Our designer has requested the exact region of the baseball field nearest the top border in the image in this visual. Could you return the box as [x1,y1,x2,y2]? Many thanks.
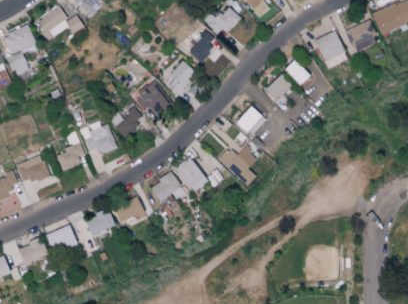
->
[264,220,342,293]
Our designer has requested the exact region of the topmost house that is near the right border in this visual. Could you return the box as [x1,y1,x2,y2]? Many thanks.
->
[374,0,408,34]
